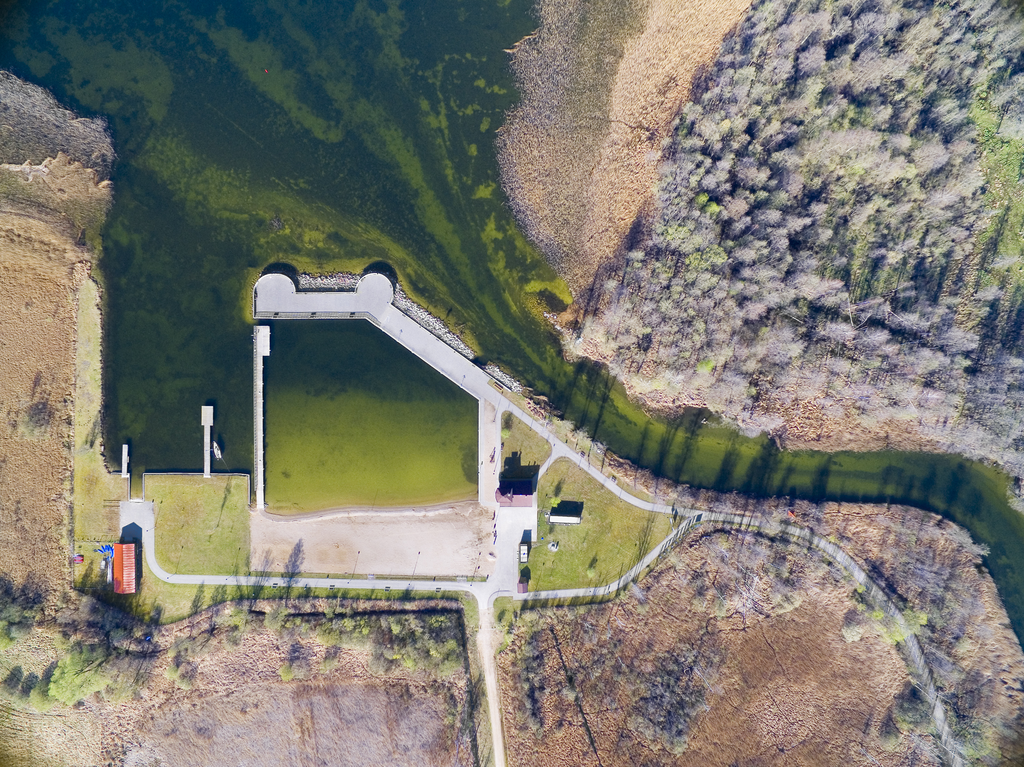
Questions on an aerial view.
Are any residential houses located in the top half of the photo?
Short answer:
No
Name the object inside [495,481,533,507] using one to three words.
house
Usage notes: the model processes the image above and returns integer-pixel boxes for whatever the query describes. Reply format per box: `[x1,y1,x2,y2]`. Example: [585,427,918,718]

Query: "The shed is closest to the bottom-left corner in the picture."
[114,542,138,594]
